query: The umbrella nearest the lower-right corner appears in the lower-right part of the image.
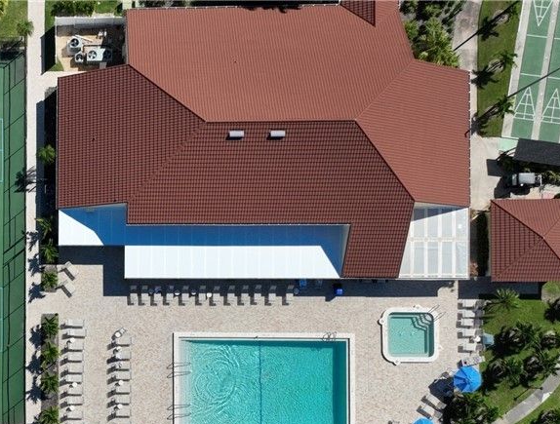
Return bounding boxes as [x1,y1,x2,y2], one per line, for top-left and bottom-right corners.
[450,364,479,394]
